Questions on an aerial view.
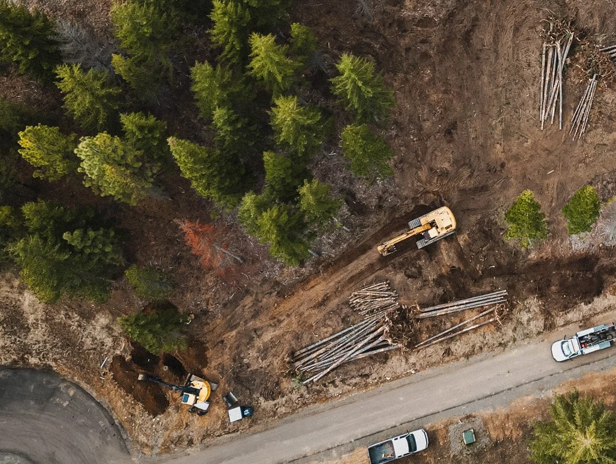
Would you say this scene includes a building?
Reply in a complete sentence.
No, no building can be seen from above.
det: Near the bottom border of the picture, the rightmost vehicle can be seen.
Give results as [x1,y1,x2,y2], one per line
[363,428,433,464]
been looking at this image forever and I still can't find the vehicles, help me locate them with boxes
[374,206,455,255]
[228,390,259,423]
[363,428,433,464]
[149,367,227,414]
[552,323,616,364]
